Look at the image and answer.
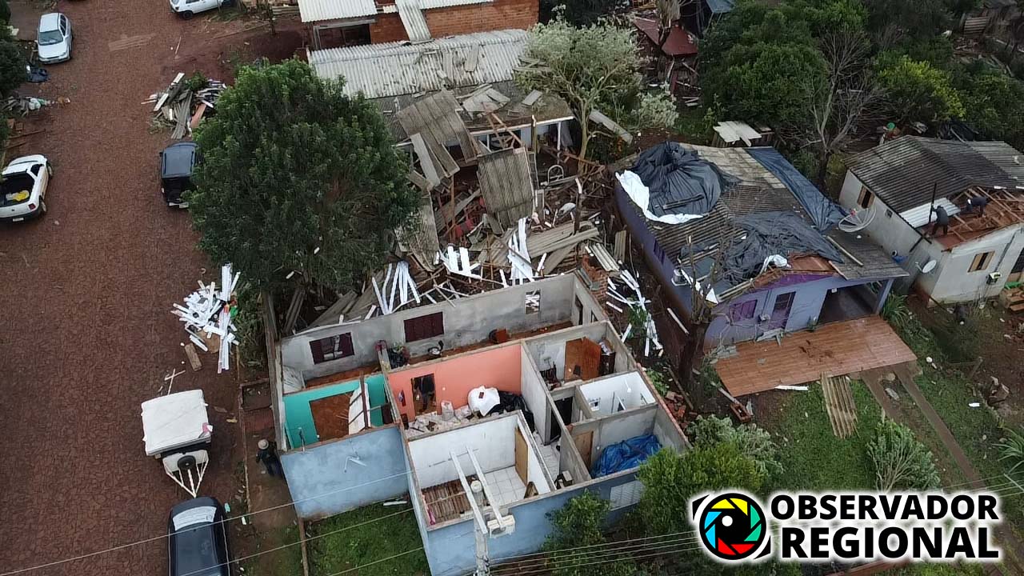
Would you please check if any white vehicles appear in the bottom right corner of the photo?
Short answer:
No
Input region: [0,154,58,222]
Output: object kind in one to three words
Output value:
truck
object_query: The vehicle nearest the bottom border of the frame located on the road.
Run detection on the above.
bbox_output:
[165,486,235,576]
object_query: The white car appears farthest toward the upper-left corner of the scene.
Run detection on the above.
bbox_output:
[29,15,72,60]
